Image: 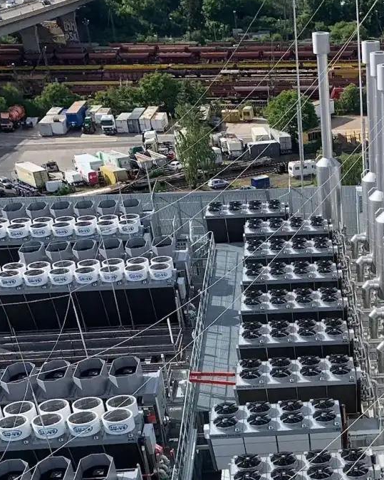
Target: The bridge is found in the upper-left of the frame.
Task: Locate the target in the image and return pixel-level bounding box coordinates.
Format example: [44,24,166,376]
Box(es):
[0,0,92,46]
